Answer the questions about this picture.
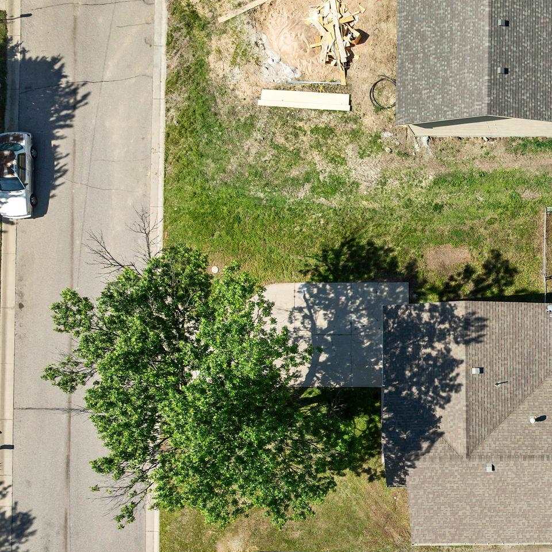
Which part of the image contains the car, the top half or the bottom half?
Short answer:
top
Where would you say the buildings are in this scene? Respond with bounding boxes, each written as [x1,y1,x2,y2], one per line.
[397,0,552,137]
[379,301,552,546]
